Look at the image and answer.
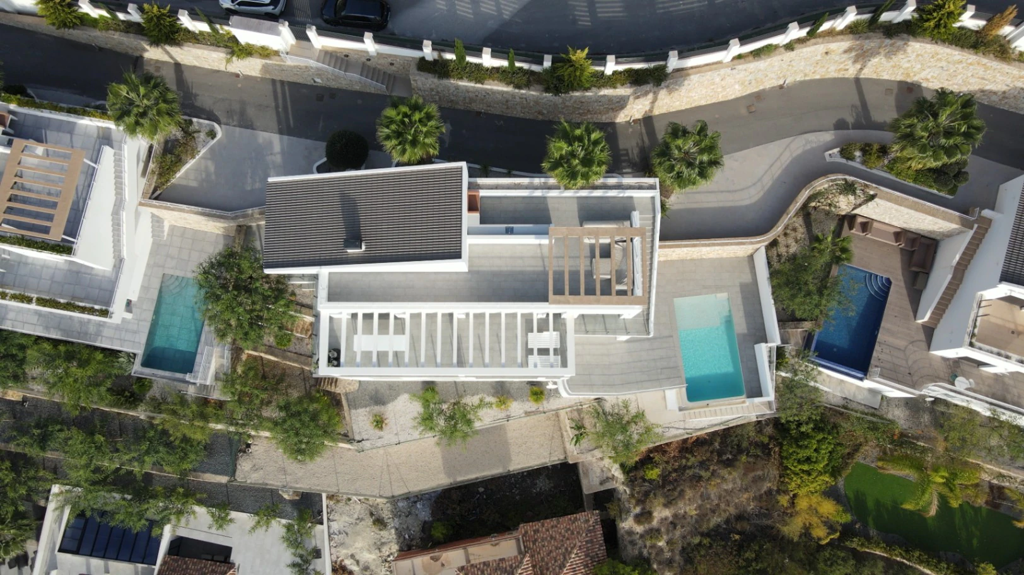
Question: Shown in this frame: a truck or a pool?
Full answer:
This aerial view contains a pool.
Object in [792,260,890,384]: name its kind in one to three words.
swimming pool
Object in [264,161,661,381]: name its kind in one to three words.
house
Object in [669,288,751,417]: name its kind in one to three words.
swimming pool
